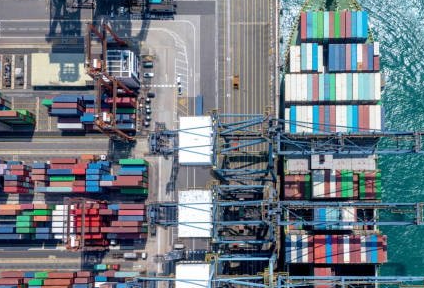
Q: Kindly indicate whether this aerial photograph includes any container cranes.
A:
Yes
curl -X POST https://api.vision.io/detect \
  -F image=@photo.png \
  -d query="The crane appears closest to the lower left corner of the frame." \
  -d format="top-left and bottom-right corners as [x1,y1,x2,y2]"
[62,195,108,253]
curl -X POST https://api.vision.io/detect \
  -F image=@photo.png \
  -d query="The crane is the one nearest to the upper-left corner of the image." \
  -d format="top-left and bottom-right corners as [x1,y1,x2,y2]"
[85,23,128,94]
